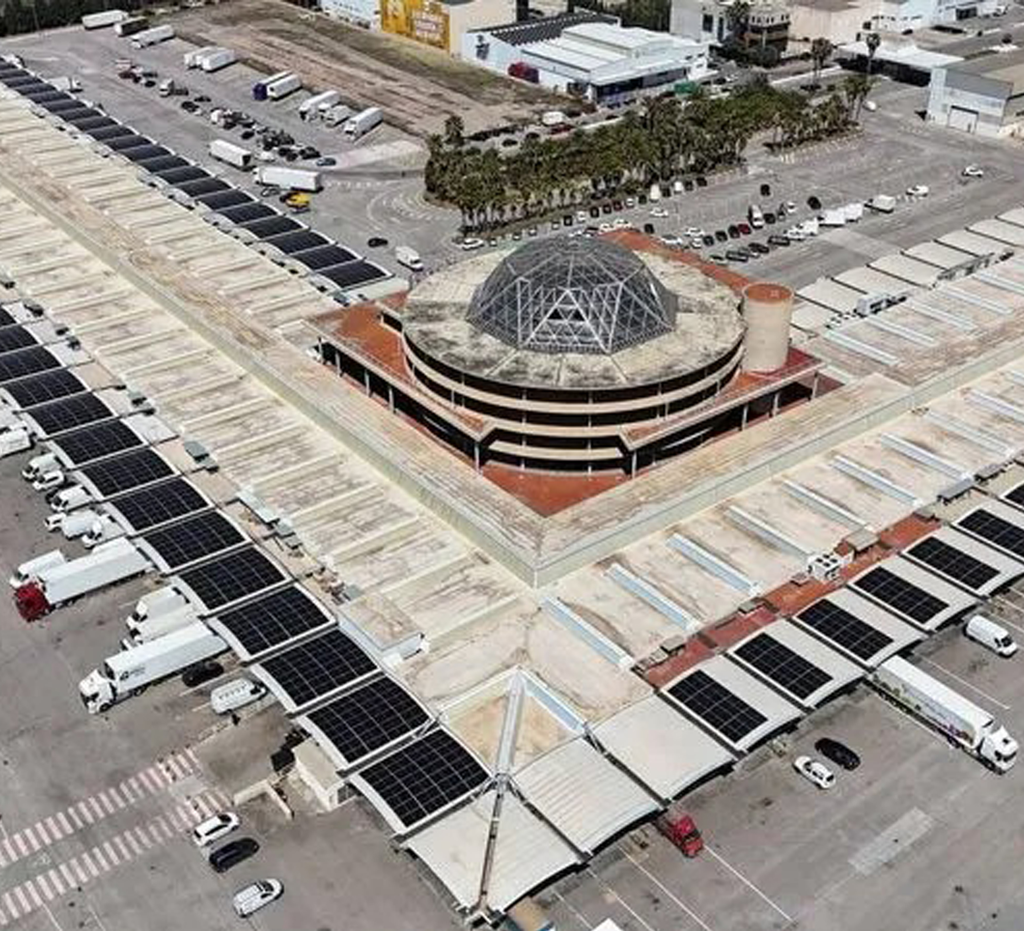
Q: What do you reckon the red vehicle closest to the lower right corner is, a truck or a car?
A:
truck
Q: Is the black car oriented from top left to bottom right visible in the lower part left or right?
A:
right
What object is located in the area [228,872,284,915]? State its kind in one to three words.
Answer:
van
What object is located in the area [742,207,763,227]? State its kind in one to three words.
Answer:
vehicle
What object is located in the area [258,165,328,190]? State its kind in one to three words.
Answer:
truck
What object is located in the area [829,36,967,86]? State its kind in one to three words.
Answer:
shed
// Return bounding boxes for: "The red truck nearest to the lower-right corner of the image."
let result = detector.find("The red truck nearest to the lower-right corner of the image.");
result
[652,808,712,856]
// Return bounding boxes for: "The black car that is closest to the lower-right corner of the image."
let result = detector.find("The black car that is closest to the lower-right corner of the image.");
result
[815,734,857,767]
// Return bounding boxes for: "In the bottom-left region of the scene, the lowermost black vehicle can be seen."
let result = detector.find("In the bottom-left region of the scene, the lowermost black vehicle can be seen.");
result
[209,838,257,871]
